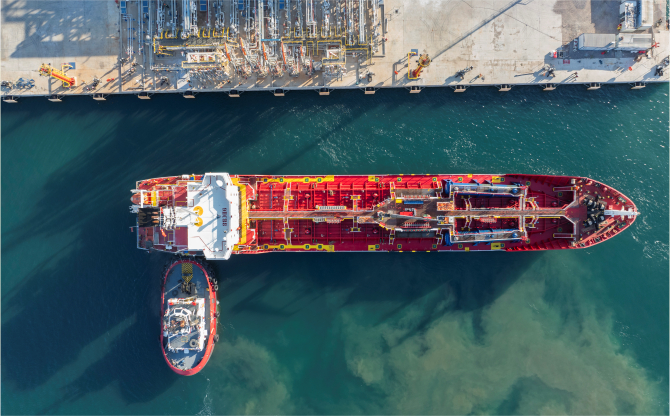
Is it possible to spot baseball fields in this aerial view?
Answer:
No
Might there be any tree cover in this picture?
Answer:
No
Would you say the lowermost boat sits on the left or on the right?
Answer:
left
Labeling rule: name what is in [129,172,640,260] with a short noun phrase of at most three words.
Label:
ship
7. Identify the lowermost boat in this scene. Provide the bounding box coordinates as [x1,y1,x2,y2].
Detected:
[158,258,221,375]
